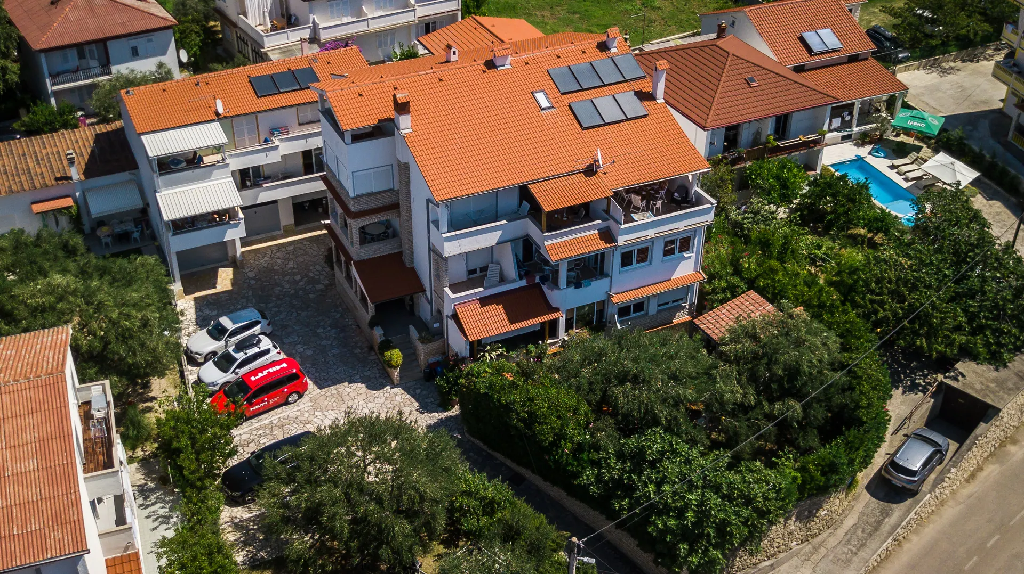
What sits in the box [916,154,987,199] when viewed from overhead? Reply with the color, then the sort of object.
white umbrella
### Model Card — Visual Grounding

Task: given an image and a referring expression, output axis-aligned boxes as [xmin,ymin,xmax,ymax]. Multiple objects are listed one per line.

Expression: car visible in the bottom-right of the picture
[882,424,955,493]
